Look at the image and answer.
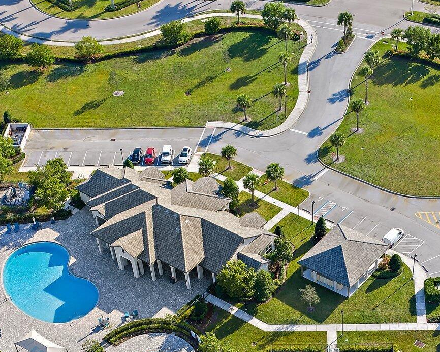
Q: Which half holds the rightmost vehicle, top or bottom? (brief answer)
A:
bottom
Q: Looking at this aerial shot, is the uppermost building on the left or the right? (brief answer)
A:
left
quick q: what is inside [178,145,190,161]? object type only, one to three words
vehicle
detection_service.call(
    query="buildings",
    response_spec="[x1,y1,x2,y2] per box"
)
[74,165,279,289]
[298,223,389,296]
[1,122,28,152]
